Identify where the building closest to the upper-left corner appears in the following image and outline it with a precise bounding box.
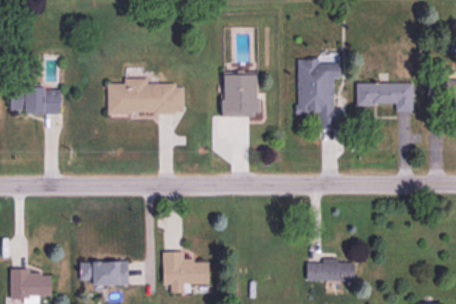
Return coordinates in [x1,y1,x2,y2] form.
[10,88,62,116]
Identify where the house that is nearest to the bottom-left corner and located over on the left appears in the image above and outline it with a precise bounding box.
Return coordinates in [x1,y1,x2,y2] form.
[10,268,52,300]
